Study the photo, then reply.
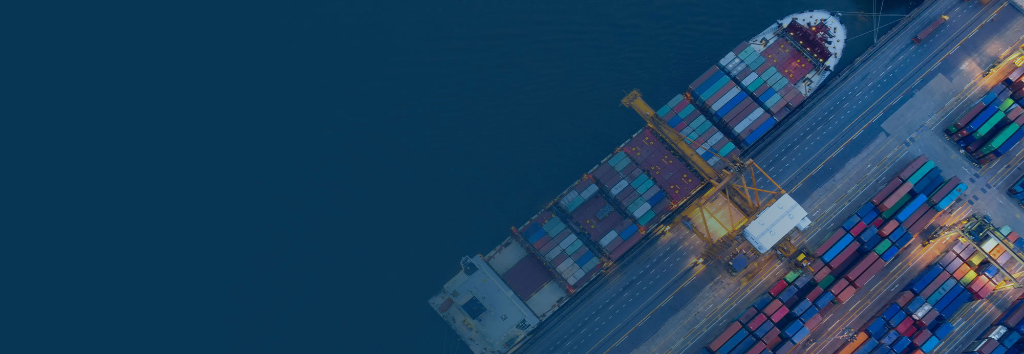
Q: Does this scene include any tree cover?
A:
No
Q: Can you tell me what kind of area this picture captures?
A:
port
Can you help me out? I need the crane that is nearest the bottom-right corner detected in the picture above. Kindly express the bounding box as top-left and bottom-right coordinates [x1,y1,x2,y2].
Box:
[919,213,1024,305]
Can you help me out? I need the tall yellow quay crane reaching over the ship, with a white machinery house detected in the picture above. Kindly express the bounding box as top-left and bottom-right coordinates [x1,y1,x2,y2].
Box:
[617,83,812,268]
